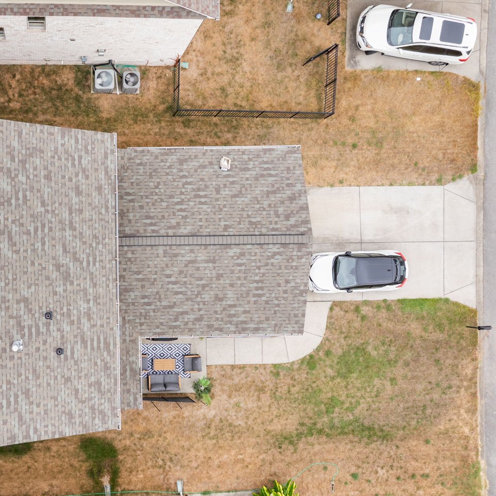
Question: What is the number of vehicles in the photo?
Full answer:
The photo contains 2 vehicles.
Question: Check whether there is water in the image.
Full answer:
No, water can't be seen anywhere here.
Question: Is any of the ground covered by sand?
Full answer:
No, there's no sand in this view.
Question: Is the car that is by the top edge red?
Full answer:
No, the car that is by the top edge is actually white.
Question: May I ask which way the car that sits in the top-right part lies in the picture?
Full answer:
What the image shows is the car that sits in the top-right part lying from left to right.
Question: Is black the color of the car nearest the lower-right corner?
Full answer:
No, the car nearest the lower-right corner is white.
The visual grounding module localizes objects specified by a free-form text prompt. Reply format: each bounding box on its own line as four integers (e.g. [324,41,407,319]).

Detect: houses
[0,0,223,65]
[0,118,314,446]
